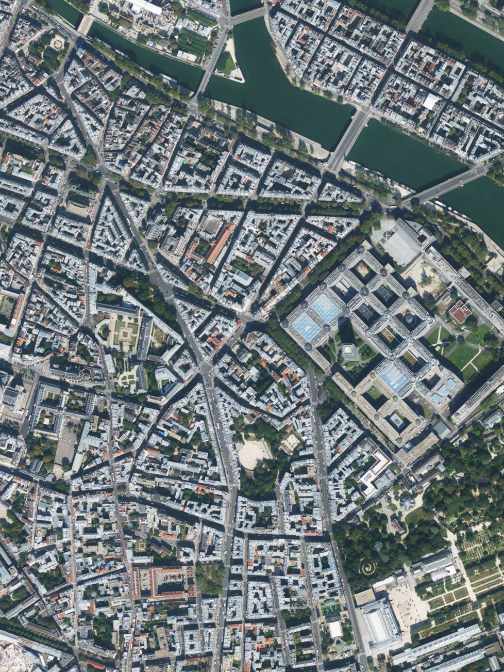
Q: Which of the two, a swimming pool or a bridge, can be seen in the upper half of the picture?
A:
bridge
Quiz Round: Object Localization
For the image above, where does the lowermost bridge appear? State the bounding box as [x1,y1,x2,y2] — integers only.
[399,158,495,210]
